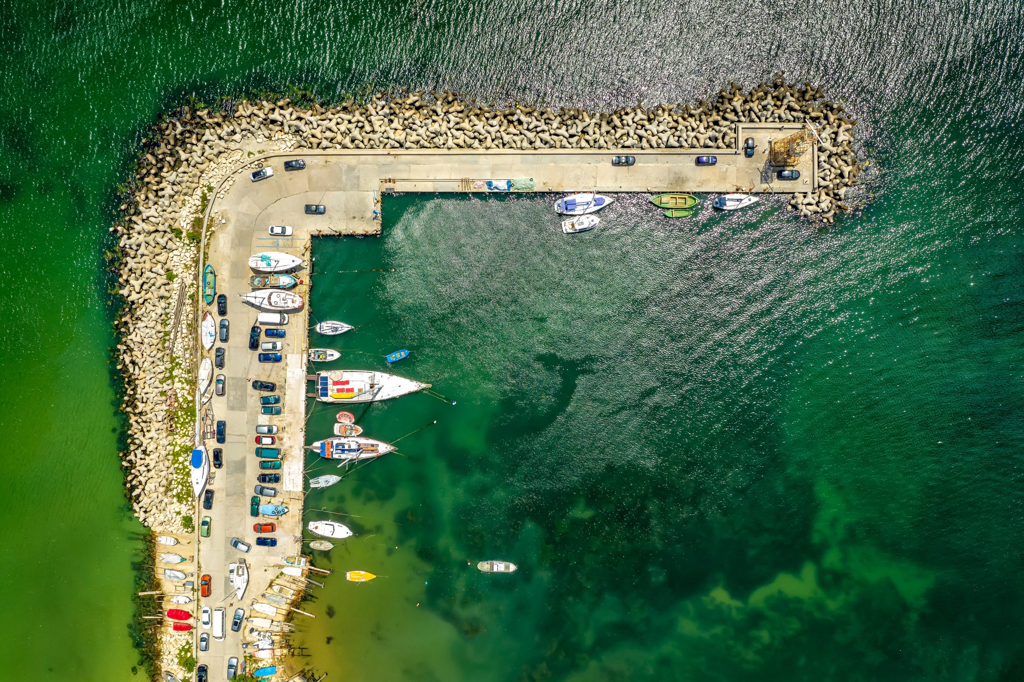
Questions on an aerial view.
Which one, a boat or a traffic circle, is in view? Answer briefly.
boat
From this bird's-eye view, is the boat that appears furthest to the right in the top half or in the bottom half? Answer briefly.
top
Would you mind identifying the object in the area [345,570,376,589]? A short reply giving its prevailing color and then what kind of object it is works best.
yellow boat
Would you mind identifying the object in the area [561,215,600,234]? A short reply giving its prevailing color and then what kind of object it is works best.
white boat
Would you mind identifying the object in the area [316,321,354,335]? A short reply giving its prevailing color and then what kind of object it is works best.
white boat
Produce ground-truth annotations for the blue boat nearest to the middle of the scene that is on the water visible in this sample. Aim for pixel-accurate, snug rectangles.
[386,350,409,362]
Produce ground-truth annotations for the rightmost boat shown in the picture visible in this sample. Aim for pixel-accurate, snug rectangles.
[711,189,760,210]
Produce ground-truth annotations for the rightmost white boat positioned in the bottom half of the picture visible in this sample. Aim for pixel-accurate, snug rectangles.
[477,560,518,575]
